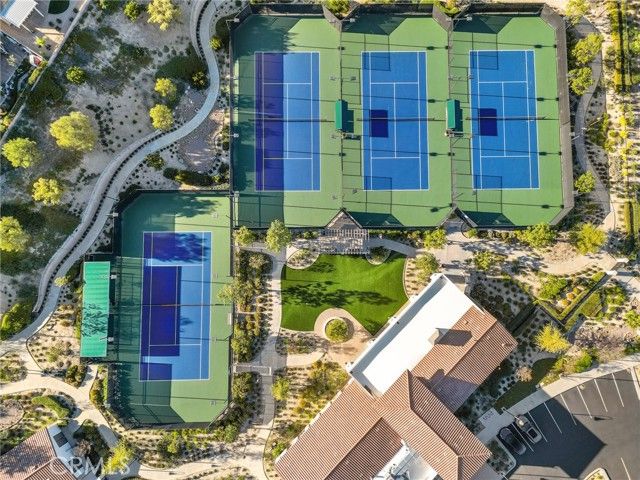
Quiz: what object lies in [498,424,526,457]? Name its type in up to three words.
car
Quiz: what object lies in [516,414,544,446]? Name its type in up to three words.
car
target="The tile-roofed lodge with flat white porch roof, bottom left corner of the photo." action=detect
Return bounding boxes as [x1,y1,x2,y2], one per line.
[0,416,108,480]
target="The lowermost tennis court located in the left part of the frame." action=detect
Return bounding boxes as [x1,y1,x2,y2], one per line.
[118,194,232,424]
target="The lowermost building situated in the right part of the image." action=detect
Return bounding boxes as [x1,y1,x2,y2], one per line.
[274,272,518,480]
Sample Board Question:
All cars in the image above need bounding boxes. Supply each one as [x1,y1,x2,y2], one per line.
[516,414,544,446]
[498,424,526,457]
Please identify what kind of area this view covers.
sports ground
